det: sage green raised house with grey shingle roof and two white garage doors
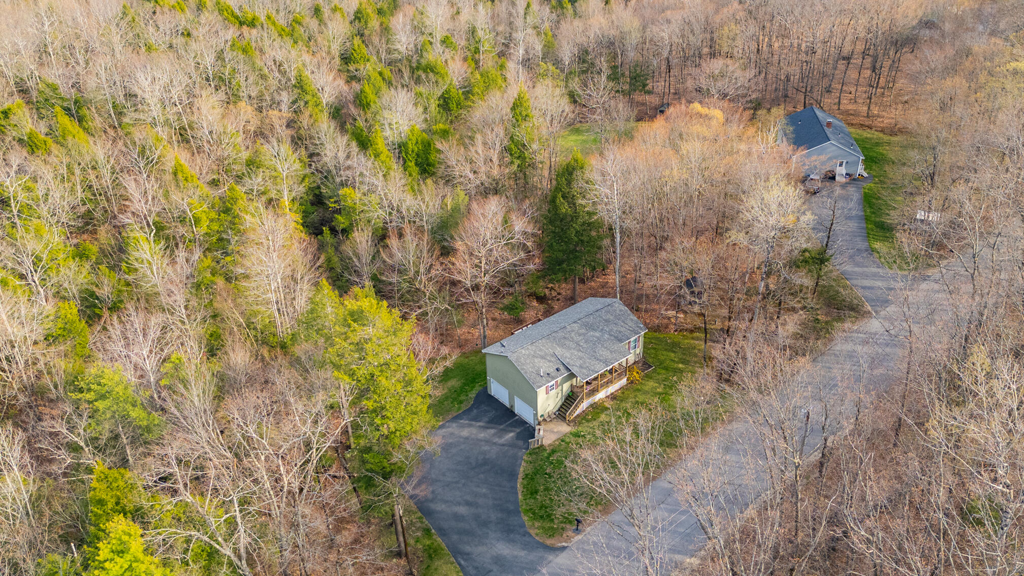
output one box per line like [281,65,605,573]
[481,298,647,429]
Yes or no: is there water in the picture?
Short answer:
No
